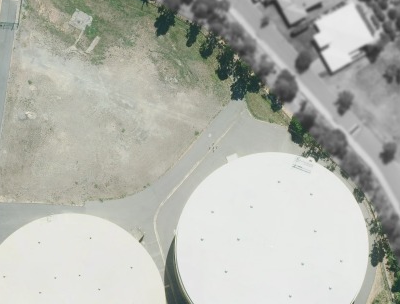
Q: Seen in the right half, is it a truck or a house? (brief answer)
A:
house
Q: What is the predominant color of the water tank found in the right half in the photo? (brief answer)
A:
white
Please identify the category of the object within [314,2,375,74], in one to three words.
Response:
house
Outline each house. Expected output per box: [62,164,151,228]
[278,0,320,26]
[314,2,375,74]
